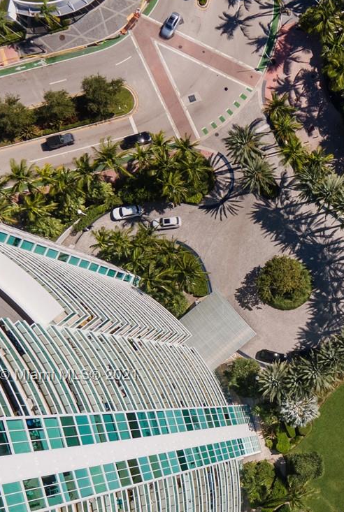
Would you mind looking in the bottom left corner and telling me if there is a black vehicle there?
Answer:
No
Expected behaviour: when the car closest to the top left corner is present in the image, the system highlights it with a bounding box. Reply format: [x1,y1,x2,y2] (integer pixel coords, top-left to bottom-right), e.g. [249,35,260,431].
[44,132,76,150]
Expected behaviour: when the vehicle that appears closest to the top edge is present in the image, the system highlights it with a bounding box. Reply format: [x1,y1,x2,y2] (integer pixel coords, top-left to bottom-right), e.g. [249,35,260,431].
[162,9,182,41]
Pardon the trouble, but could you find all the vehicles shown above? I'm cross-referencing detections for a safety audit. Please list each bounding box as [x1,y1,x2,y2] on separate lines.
[254,348,286,362]
[44,132,76,150]
[162,9,182,41]
[151,215,181,228]
[121,132,154,150]
[111,204,143,221]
